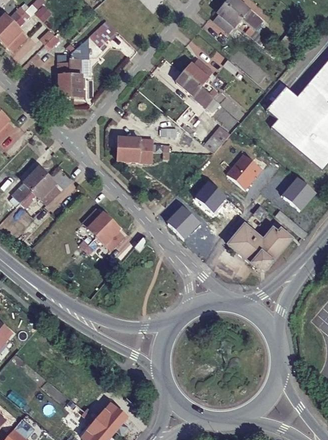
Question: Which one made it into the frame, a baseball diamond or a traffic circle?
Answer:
traffic circle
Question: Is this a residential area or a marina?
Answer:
residential area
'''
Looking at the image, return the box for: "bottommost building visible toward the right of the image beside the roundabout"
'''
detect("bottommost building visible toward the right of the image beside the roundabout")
[226,223,292,272]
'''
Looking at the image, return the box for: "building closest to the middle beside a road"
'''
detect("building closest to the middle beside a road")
[167,206,201,242]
